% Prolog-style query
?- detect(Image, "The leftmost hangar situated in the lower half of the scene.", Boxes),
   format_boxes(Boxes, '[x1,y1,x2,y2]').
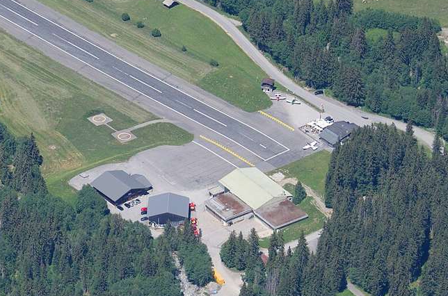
[94,170,142,209]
